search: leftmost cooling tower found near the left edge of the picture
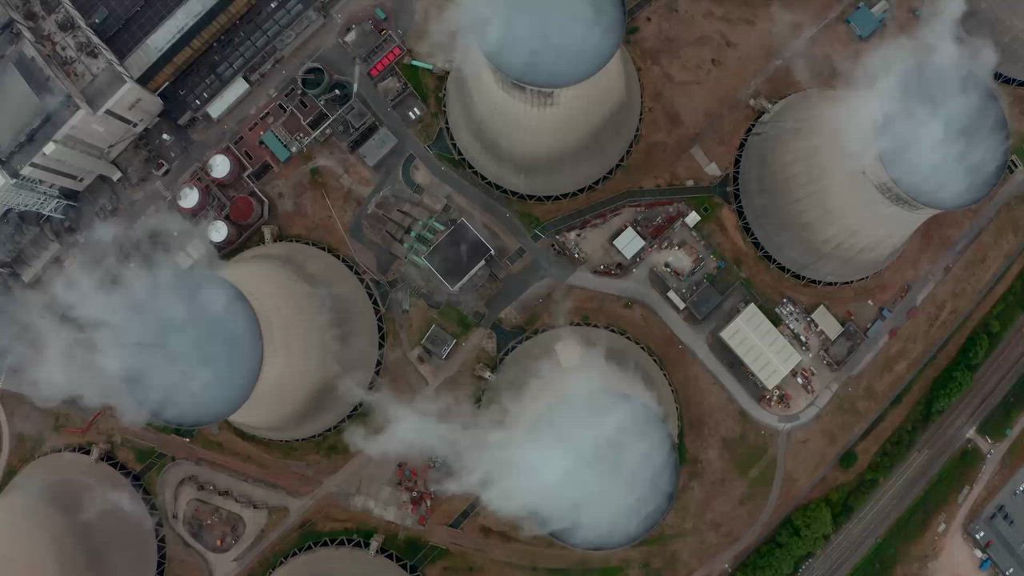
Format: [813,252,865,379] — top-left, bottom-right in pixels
[0,444,170,576]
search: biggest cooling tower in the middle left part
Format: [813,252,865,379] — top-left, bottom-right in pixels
[104,237,386,439]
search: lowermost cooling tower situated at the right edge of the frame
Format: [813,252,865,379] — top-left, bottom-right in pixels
[724,75,1011,294]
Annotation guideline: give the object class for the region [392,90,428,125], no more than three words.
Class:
building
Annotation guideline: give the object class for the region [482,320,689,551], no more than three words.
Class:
cooling tower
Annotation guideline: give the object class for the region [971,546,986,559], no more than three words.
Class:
vehicle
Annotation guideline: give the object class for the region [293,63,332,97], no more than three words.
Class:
storage tank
